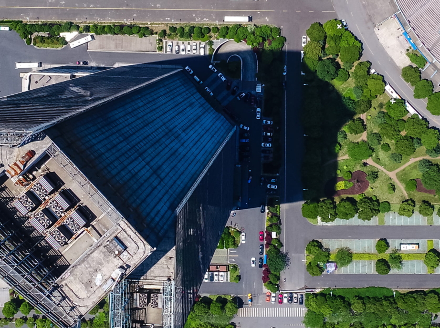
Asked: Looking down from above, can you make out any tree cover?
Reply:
Yes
